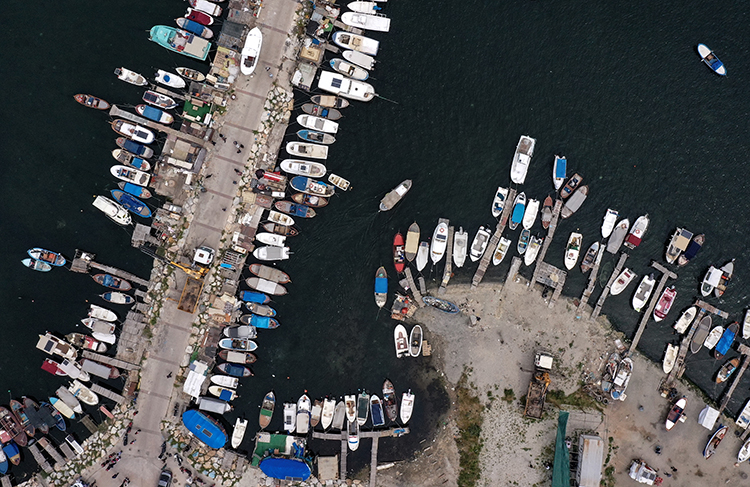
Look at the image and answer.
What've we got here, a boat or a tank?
boat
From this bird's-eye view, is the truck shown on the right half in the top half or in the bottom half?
bottom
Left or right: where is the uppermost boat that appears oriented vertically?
left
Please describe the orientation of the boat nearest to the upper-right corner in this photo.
on a diagonal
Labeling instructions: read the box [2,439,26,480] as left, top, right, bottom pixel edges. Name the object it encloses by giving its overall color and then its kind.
blue boat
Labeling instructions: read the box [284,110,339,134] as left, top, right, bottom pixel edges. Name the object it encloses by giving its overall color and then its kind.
white boat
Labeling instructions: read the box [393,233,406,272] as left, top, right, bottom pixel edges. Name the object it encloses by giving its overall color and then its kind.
red boat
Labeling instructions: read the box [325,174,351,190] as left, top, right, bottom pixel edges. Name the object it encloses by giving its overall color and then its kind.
white boat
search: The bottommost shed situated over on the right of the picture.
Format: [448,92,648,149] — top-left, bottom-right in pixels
[570,434,612,487]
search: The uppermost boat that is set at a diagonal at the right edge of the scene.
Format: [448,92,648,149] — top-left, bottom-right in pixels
[694,42,728,78]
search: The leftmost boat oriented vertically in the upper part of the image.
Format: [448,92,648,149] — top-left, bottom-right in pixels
[238,26,264,77]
